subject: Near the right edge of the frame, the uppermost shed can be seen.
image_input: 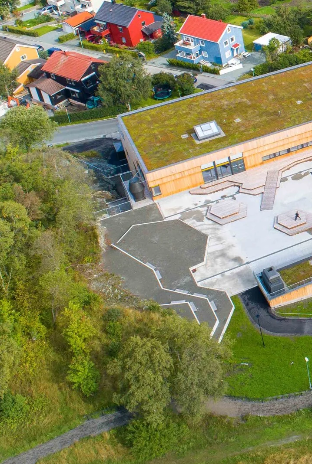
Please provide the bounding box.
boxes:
[255,25,300,55]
